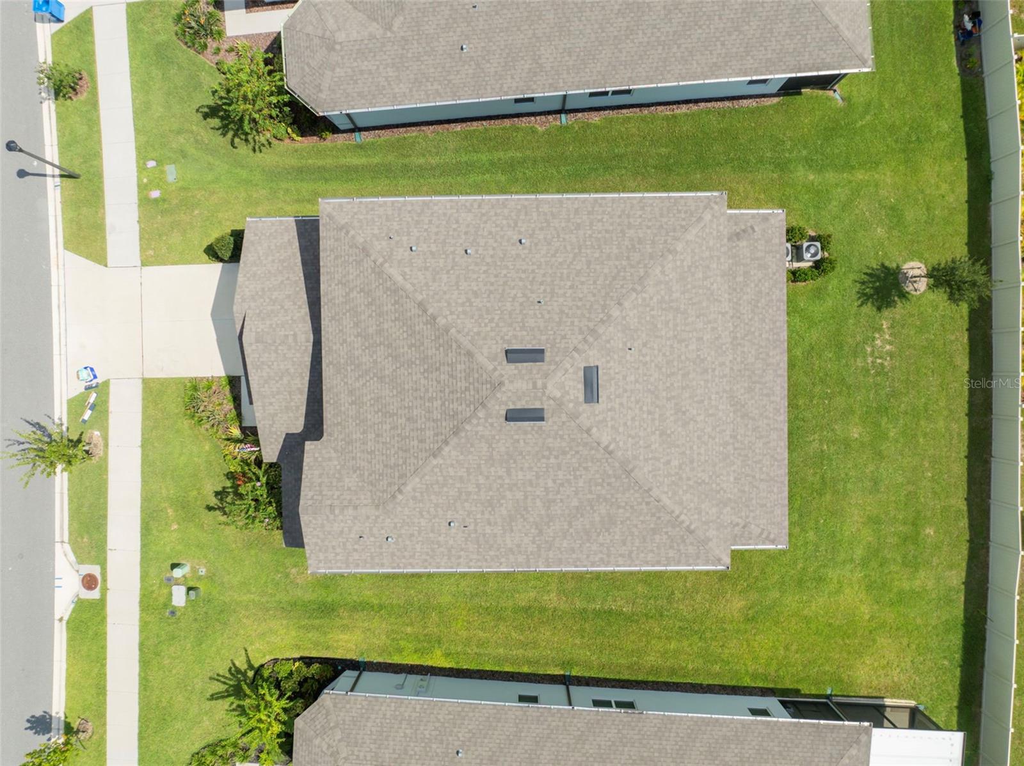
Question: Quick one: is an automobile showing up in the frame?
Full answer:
No, there is no automobile in the image.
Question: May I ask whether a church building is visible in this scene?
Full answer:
No, there's no church building here.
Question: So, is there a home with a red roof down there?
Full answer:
No, this view has no home with a red roof in it.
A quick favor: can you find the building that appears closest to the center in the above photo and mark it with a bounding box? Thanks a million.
[232,191,790,576]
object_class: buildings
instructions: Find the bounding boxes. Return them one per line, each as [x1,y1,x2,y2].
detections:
[277,0,876,133]
[232,191,790,576]
[291,667,966,766]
